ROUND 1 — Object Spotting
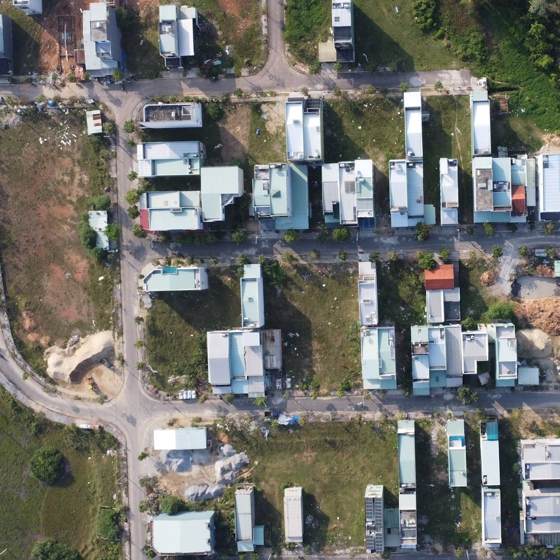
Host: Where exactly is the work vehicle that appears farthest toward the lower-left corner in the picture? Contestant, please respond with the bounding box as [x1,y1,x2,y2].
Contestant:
[83,373,97,393]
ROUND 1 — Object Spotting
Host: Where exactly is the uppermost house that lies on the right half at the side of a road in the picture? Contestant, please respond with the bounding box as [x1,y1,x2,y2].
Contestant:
[319,0,354,68]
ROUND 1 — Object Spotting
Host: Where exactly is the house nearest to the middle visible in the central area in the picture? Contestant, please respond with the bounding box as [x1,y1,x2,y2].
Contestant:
[240,264,266,327]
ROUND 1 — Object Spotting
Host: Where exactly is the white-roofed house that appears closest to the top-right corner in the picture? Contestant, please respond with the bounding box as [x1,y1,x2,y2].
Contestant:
[469,91,506,158]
